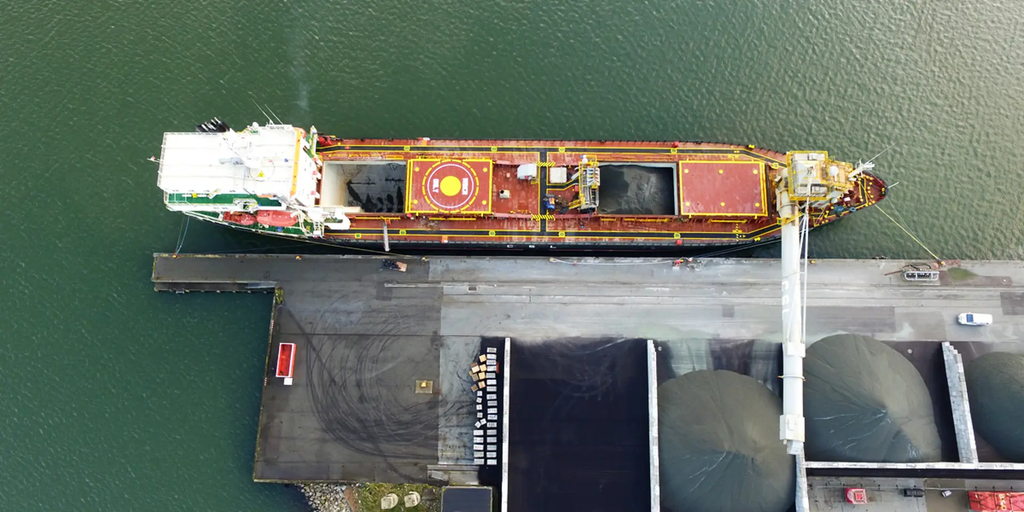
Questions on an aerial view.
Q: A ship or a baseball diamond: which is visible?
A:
ship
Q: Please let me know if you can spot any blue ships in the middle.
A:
No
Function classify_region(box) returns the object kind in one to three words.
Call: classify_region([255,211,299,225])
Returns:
boat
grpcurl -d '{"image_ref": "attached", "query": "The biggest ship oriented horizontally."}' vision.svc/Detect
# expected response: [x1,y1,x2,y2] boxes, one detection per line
[150,101,905,460]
